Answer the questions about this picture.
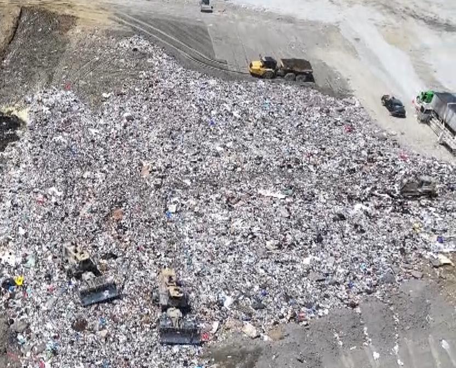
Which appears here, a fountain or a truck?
truck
